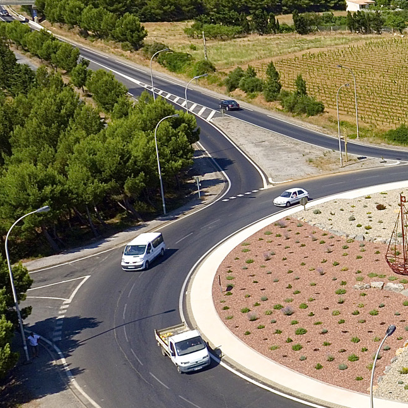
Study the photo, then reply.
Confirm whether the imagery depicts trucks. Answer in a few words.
Yes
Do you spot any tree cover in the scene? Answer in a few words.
Yes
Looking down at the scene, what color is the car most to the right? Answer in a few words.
white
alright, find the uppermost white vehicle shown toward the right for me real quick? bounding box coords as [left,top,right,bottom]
[276,187,313,207]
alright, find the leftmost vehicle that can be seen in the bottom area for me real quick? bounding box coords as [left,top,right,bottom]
[121,233,166,270]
